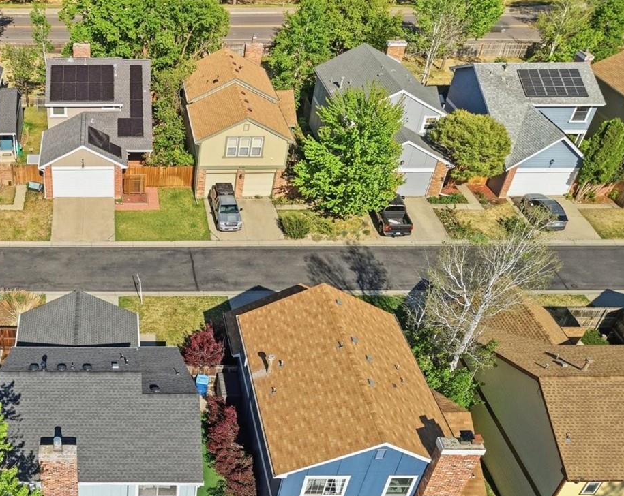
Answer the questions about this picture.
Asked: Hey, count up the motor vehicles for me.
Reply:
3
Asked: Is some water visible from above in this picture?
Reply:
No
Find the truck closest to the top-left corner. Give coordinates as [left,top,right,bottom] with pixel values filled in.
[212,184,244,227]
